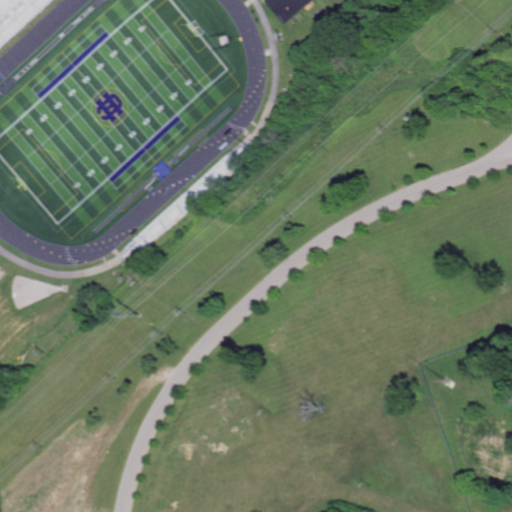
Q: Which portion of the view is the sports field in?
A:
top left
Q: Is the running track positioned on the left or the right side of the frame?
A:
left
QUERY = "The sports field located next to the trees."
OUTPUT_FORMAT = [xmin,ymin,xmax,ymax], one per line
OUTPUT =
[0,0,248,244]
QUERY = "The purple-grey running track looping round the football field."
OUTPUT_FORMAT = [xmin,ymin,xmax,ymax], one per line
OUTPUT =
[0,0,266,264]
